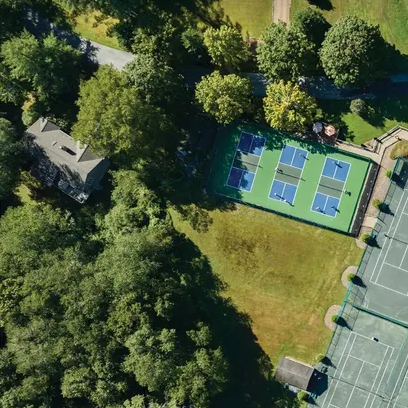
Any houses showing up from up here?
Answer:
Yes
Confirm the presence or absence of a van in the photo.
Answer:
No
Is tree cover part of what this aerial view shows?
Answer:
Yes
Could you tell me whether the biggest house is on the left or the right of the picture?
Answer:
left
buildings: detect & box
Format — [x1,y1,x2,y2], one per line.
[17,117,109,190]
[275,357,316,390]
